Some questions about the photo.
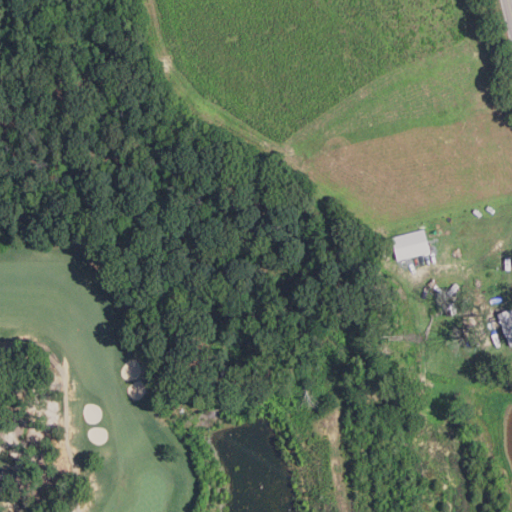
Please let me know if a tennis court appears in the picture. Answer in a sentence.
No, this view has no tennis court in it.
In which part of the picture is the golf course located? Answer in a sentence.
The golf course is located in the bottom left region of the scene.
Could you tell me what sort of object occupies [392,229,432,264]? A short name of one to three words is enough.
barn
